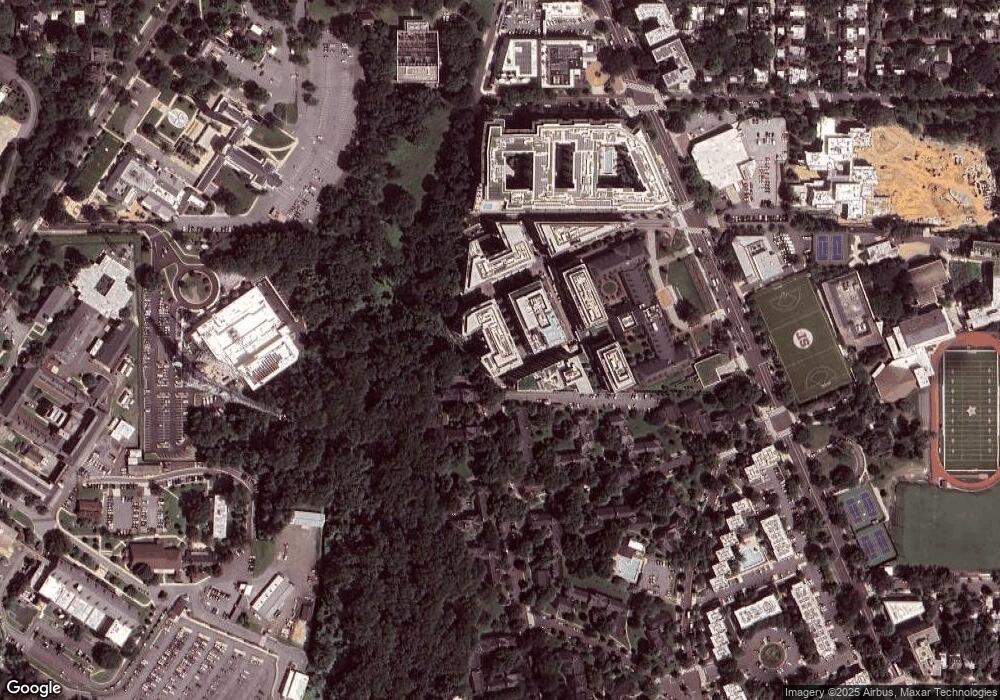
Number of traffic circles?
2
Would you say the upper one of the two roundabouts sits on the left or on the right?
left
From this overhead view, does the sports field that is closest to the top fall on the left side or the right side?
right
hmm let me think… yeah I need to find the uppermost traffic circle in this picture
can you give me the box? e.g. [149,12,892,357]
[170,262,221,312]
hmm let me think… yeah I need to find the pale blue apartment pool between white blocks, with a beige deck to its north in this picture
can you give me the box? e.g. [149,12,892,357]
[738,538,770,574]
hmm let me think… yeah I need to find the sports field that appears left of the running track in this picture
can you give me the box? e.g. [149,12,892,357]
[756,277,852,403]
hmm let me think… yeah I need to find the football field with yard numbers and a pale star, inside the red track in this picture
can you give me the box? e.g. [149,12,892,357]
[938,349,1000,480]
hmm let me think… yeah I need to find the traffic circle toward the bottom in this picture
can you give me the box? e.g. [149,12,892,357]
[744,626,802,684]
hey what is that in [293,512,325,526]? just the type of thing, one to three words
shed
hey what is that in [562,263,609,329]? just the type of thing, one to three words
building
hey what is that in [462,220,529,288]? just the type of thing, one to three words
building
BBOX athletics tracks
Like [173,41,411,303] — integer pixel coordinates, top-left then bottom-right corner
[931,331,1000,488]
